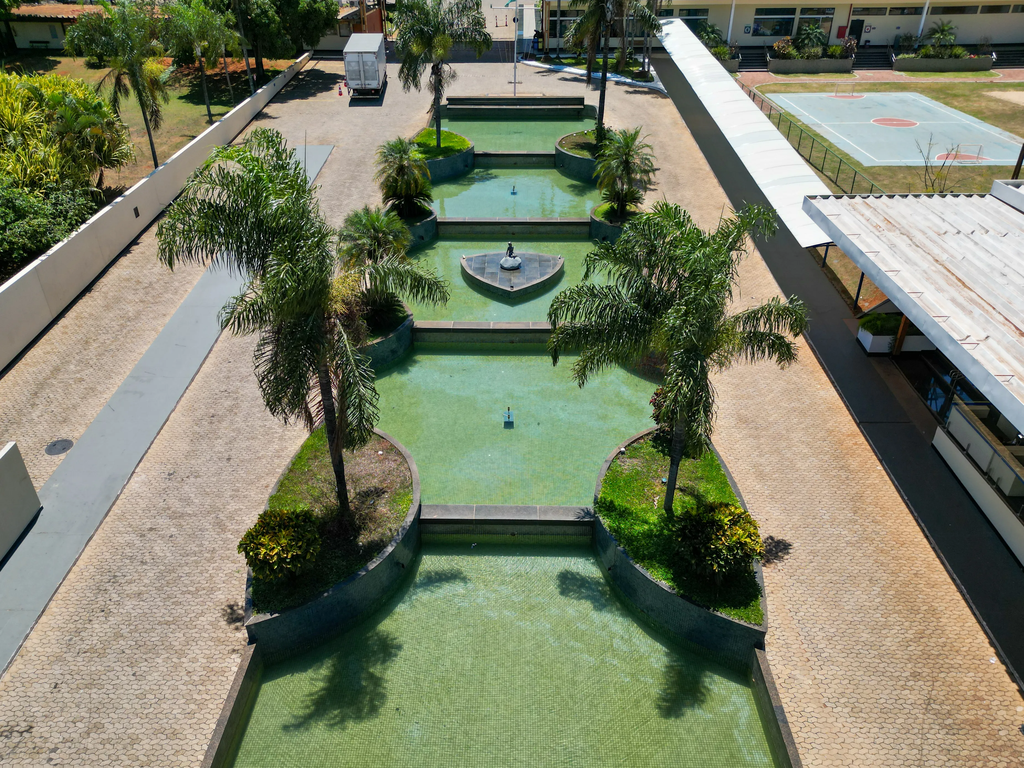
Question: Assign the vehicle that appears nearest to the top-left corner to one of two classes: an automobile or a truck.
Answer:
truck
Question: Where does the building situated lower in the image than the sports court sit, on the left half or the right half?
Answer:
right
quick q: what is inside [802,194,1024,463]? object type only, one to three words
building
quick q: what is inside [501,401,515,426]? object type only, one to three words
fountain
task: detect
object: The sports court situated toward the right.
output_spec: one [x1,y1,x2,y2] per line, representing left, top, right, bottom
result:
[769,92,1020,166]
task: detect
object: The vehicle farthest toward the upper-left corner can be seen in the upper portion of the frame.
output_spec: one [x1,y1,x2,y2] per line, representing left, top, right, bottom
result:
[342,35,393,97]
